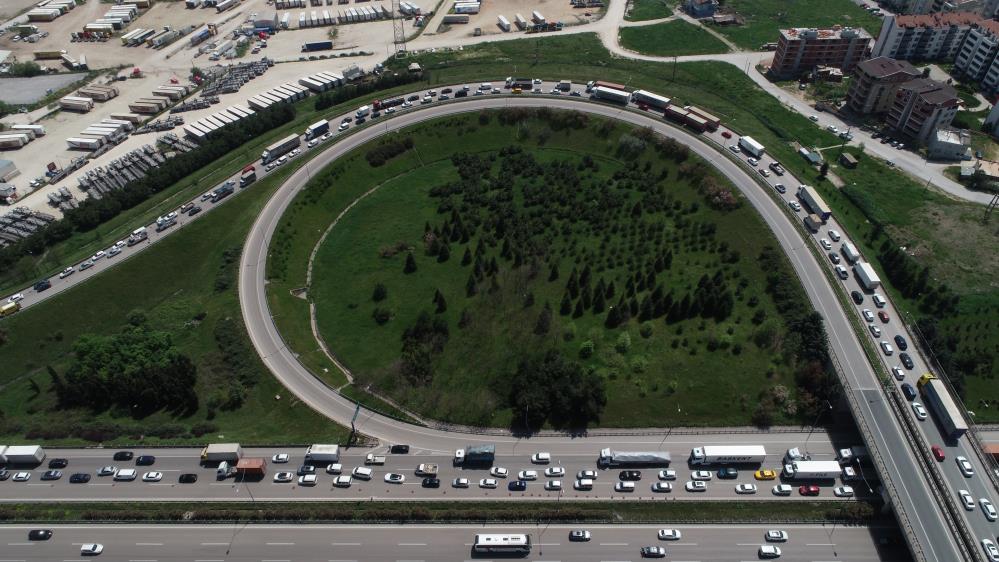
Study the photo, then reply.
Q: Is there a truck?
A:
Yes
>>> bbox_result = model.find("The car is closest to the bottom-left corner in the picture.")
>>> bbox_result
[27,529,54,542]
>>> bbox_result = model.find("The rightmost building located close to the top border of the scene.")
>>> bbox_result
[956,25,999,96]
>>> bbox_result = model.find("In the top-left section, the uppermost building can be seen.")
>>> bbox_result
[254,5,281,33]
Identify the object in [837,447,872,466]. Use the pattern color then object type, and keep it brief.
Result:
black vehicle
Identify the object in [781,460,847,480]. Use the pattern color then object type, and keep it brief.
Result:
white vehicle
